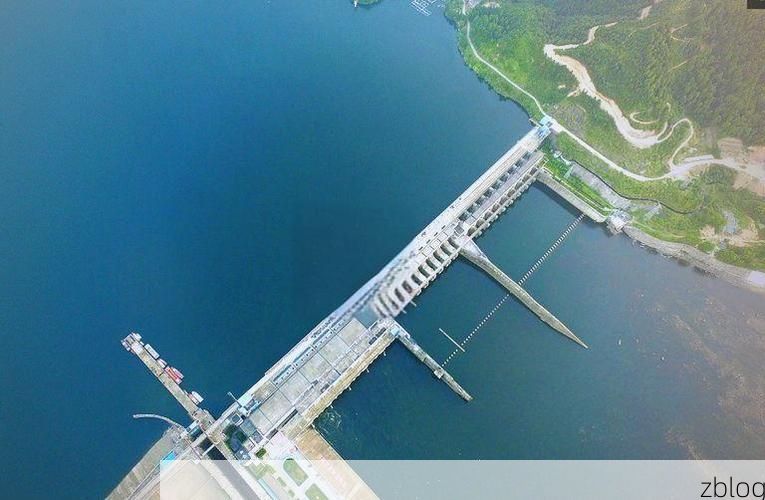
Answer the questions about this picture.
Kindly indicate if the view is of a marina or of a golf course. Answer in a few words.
marina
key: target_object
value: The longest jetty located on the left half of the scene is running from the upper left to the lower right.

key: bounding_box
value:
[125,338,217,431]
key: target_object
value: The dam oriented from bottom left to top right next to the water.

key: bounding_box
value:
[130,125,551,500]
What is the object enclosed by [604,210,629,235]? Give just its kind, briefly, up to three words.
building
